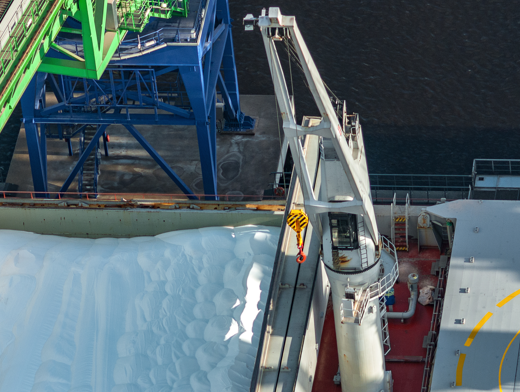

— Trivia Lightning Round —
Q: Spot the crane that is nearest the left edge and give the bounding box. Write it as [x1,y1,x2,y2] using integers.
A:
[244,11,405,392]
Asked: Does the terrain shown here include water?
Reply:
Yes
